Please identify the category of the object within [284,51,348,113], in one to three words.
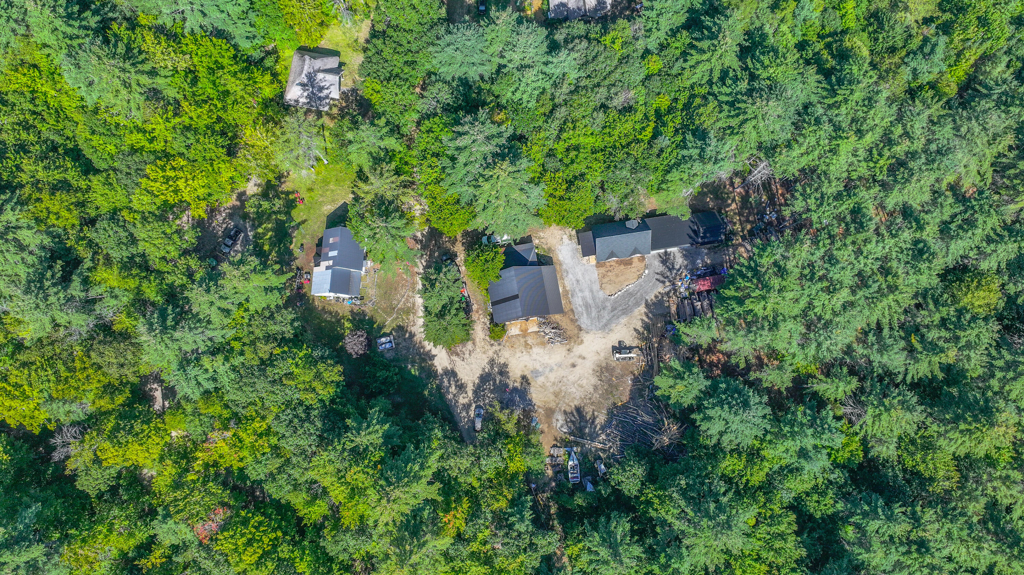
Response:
house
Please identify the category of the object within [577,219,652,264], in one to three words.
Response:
house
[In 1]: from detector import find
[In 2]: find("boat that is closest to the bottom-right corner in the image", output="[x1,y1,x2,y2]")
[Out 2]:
[596,461,609,480]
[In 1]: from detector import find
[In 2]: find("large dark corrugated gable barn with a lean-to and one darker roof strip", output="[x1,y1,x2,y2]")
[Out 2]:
[486,265,563,323]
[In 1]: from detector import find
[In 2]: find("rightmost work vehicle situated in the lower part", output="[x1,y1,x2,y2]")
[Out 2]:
[612,347,652,362]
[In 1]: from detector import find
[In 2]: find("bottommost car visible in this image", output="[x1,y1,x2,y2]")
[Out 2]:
[472,407,485,436]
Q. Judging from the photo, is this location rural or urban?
rural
